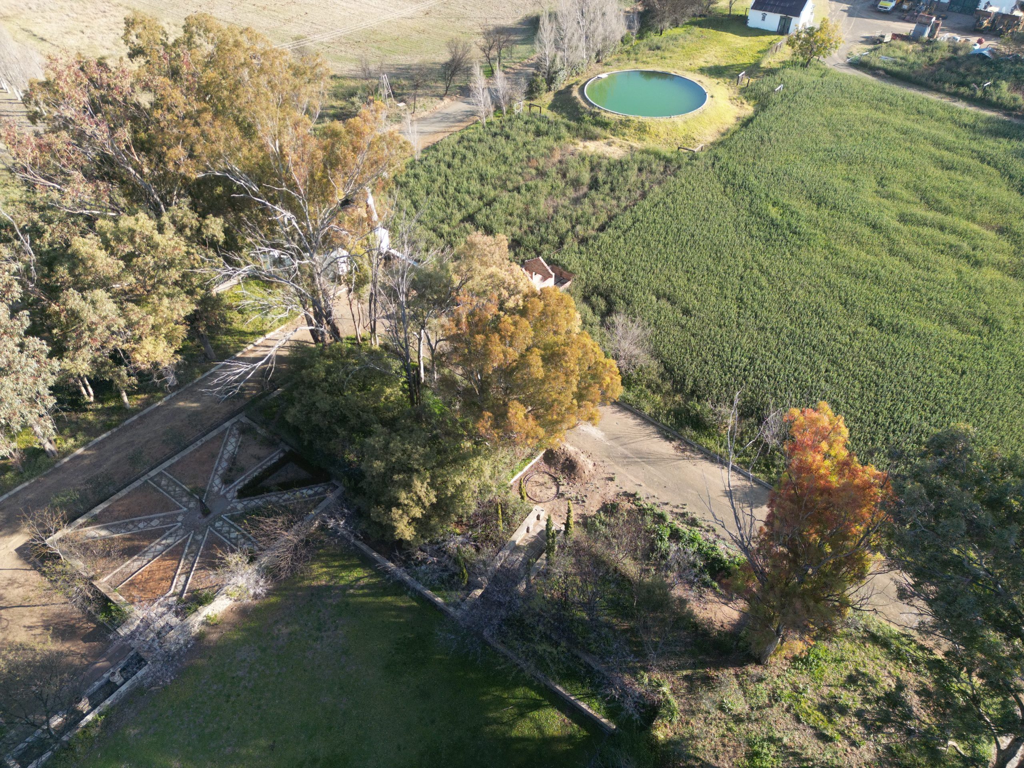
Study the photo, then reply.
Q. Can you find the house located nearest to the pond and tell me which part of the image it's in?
top right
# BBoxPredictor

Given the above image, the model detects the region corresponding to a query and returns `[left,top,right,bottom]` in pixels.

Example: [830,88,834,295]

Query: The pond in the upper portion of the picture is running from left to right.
[583,71,710,123]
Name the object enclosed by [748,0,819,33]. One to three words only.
house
